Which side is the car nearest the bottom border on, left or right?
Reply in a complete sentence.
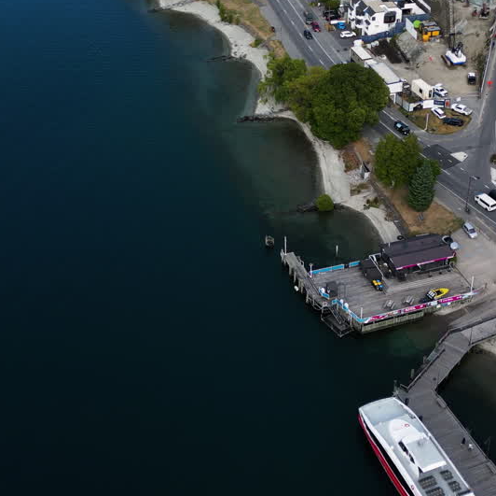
The car nearest the bottom border sits on the right side.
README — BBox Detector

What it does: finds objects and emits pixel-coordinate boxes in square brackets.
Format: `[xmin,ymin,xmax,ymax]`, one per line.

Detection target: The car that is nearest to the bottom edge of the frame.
[460,217,482,237]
